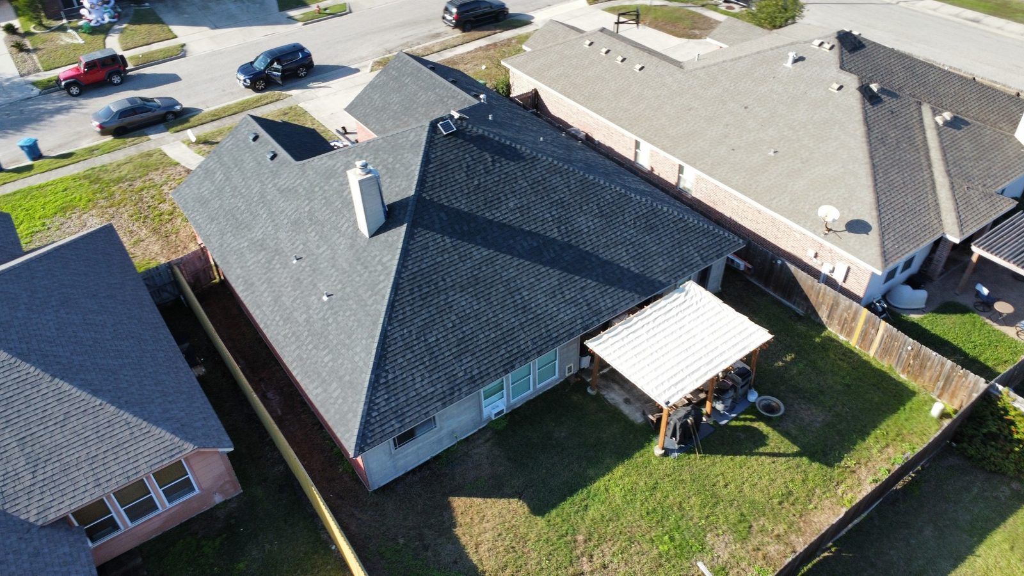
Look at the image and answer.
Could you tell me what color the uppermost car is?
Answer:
black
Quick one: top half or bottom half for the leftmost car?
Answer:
top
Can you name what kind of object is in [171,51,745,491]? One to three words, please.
house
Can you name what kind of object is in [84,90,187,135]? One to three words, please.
car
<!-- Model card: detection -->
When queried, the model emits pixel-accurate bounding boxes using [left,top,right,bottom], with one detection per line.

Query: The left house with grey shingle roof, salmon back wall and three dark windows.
[0,212,245,576]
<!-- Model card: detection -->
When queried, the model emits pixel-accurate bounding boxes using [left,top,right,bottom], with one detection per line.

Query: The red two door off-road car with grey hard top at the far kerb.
[51,44,129,95]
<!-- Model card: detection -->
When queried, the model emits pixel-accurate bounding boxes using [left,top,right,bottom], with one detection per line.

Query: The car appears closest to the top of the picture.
[442,0,515,32]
